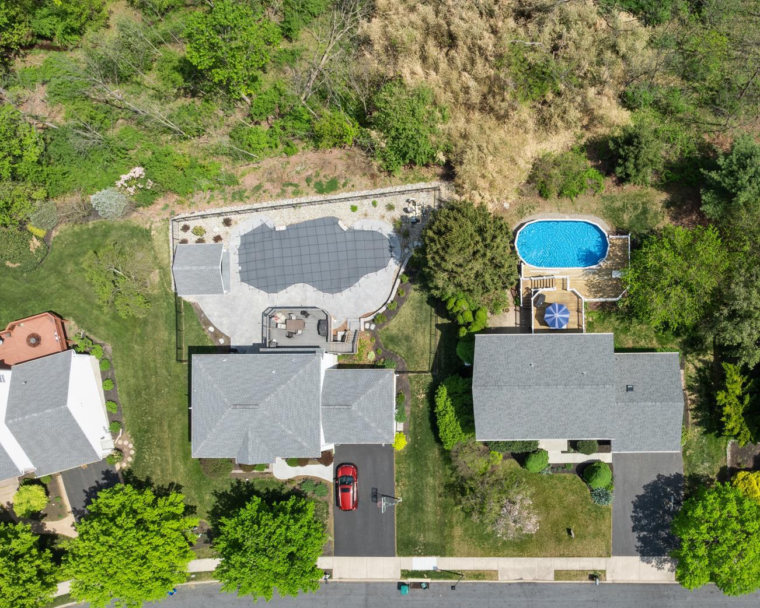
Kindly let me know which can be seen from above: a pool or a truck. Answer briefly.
pool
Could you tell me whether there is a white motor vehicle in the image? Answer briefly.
No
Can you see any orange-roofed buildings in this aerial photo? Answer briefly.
No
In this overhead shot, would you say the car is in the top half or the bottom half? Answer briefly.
bottom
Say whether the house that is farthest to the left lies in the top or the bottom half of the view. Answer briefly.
bottom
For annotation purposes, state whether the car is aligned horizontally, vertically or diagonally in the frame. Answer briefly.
vertically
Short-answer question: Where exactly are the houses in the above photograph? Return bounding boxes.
[0,348,127,485]
[191,349,398,467]
[472,333,684,453]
